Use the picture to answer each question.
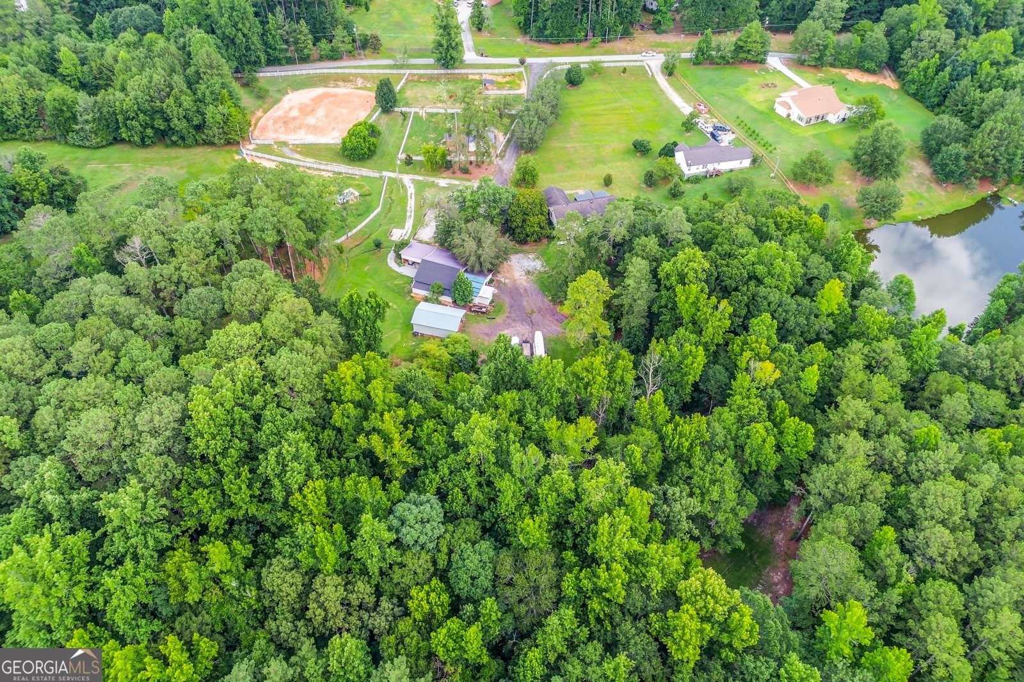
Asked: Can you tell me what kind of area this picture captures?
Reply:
forest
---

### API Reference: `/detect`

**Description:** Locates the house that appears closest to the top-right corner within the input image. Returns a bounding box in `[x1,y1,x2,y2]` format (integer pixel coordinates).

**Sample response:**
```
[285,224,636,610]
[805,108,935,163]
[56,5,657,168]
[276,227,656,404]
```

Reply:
[772,81,847,125]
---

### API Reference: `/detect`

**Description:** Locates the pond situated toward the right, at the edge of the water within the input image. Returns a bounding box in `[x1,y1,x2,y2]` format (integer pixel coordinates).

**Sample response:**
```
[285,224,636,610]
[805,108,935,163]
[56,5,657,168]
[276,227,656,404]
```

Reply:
[848,191,1024,355]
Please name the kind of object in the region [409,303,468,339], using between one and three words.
barn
